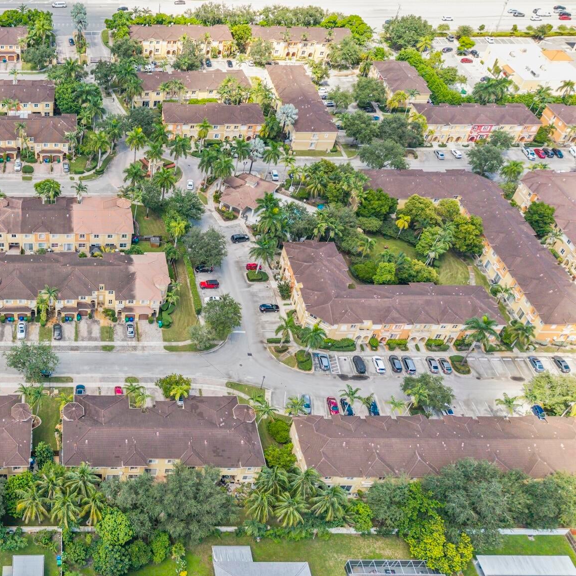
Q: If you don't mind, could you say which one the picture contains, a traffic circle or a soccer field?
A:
traffic circle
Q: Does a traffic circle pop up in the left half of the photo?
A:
Yes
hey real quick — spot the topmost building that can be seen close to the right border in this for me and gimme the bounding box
[483,44,576,97]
